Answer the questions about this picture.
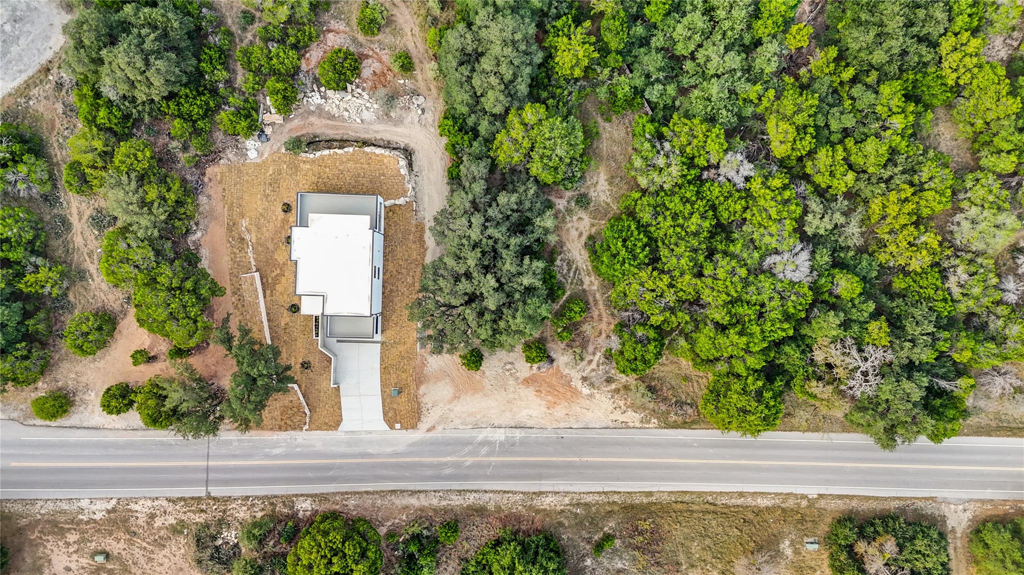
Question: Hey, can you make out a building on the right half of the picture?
No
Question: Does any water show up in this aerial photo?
No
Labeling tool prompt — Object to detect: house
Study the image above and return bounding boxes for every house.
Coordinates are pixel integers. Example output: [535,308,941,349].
[288,192,384,339]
